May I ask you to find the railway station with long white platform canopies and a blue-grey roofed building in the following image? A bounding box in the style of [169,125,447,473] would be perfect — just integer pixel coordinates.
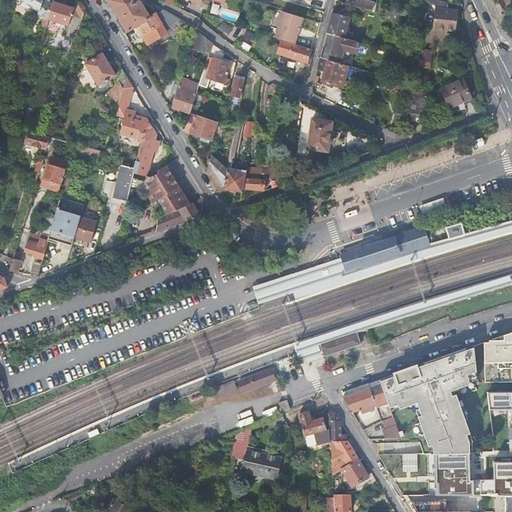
[9,221,512,475]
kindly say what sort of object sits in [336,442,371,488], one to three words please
house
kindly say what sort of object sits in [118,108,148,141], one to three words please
house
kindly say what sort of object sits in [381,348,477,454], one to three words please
building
